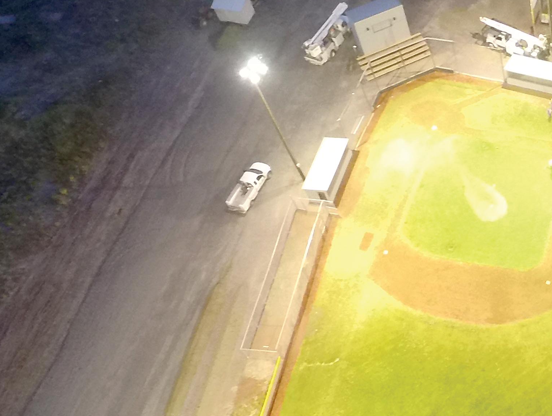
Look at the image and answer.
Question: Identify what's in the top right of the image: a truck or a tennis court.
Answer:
truck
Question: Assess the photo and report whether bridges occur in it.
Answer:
No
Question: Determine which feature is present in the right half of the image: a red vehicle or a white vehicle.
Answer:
white vehicle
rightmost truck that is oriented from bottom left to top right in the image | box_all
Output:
[306,0,352,63]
